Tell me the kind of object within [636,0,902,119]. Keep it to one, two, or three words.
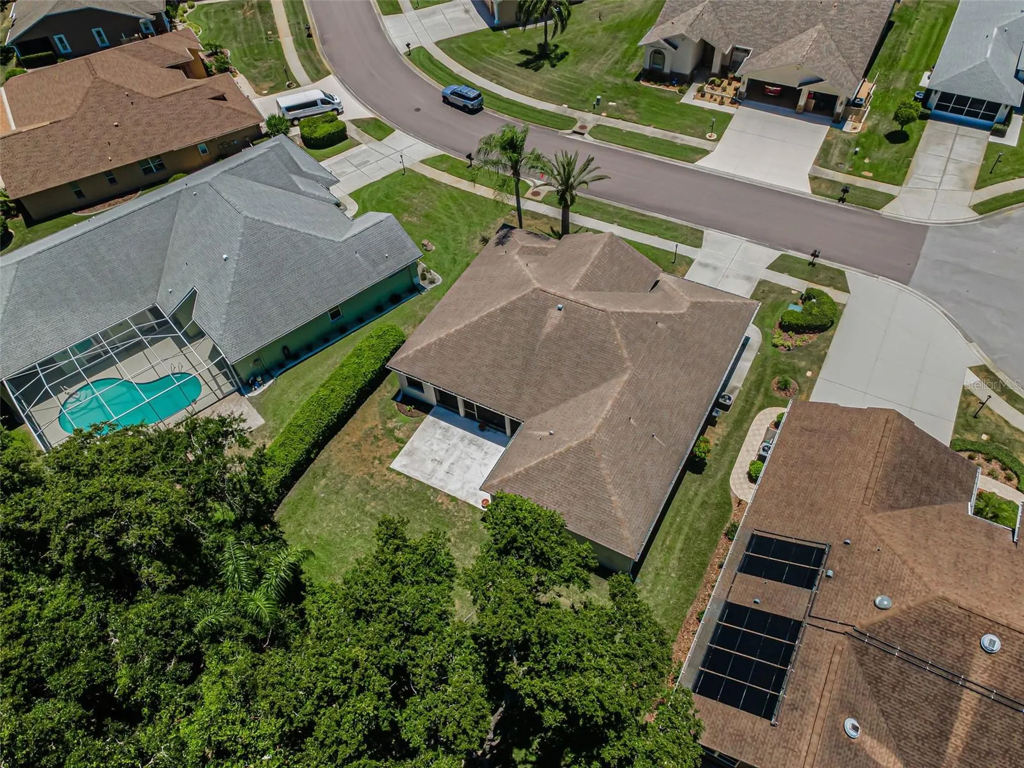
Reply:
house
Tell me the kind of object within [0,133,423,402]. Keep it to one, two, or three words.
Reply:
house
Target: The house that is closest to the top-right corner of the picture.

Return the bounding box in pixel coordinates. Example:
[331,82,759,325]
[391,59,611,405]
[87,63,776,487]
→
[924,0,1024,125]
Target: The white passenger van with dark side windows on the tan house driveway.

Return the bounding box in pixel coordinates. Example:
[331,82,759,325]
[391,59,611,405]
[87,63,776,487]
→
[274,86,345,125]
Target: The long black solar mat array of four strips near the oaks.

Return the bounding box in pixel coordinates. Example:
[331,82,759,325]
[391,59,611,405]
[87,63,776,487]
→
[691,601,806,720]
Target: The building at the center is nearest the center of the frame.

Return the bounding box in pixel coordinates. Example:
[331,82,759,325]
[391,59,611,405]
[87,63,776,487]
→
[385,223,762,567]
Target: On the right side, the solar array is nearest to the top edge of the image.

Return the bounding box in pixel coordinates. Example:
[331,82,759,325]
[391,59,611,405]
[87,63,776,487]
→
[737,533,829,590]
